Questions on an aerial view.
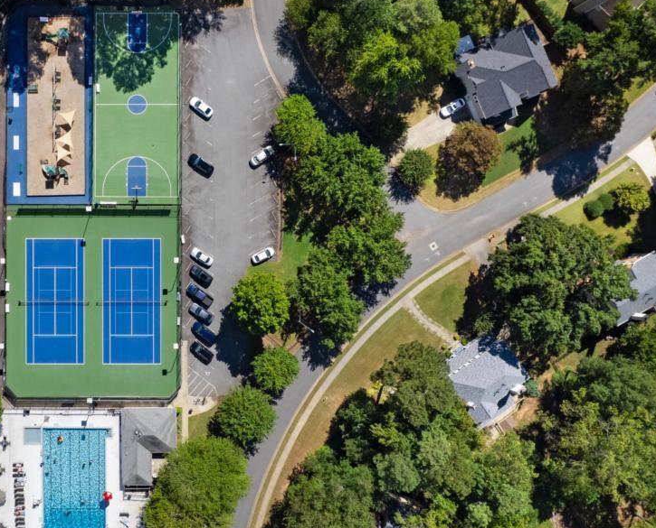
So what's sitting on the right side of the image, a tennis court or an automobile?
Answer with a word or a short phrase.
automobile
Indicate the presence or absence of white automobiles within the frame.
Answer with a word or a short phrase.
Yes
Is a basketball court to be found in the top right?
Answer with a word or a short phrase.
No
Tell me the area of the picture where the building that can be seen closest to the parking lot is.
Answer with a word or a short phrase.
bottom left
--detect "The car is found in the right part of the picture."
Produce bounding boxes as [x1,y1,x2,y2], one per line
[441,98,467,117]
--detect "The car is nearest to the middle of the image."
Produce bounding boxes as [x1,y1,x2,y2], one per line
[250,247,276,265]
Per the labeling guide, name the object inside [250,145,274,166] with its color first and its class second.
white car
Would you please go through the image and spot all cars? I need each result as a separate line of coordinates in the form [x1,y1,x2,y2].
[189,342,214,363]
[189,98,214,118]
[250,247,276,265]
[189,154,213,174]
[189,247,214,267]
[192,324,217,345]
[189,304,214,324]
[189,265,213,285]
[441,98,467,117]
[250,145,274,166]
